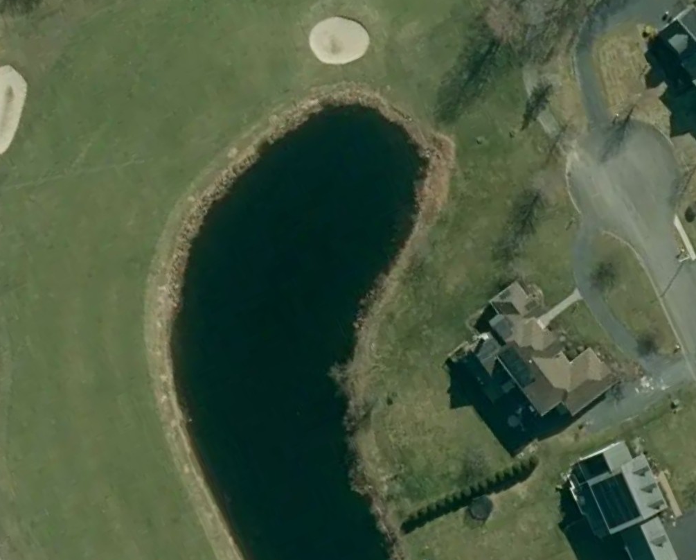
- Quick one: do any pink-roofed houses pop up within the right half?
No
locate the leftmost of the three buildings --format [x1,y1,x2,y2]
[477,281,620,416]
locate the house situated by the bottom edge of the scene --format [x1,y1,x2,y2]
[568,441,678,560]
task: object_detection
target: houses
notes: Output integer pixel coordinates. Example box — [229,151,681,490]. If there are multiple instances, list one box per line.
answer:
[659,3,696,83]
[568,441,678,560]
[477,281,620,416]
